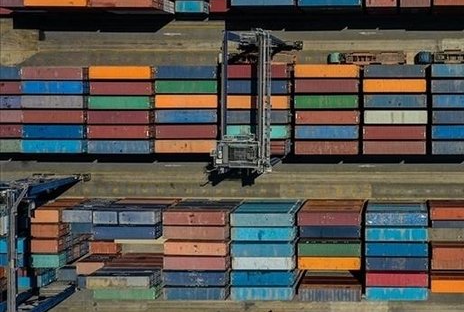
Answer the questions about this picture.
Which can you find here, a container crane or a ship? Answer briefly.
container crane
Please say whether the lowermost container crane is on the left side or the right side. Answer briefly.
left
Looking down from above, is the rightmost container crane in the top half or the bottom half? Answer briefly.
top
